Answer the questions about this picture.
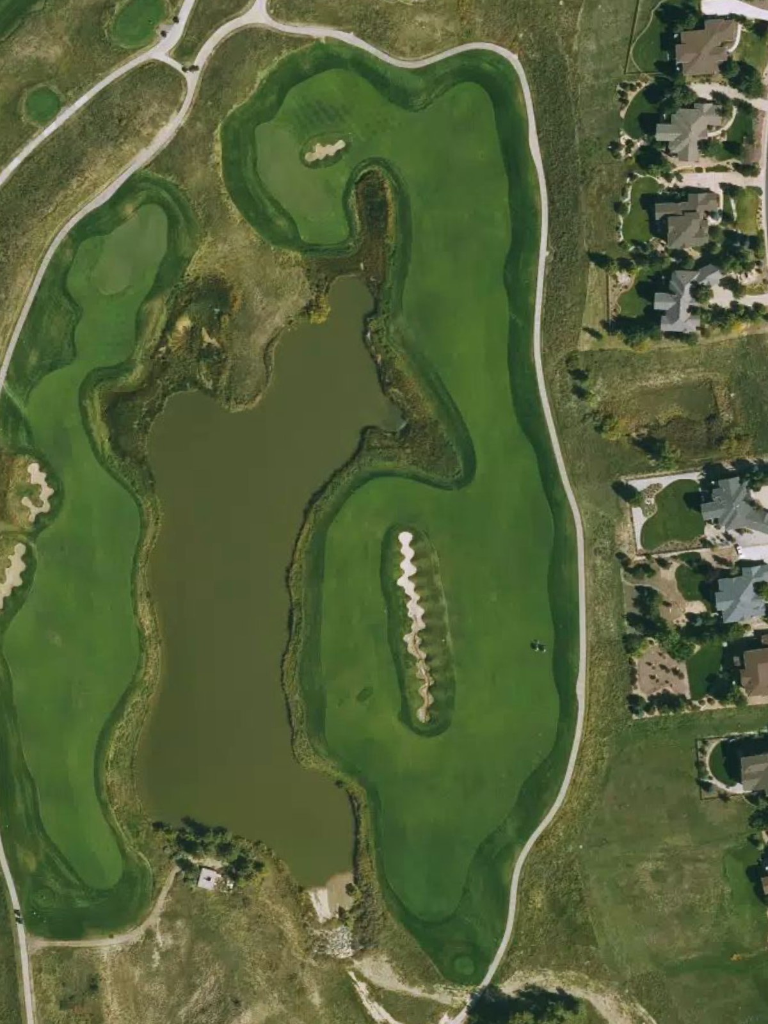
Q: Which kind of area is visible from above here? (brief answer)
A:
golf course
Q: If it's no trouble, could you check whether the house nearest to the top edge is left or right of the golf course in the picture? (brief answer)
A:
right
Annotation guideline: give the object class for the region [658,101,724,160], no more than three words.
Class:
house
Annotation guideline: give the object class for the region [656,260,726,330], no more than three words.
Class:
house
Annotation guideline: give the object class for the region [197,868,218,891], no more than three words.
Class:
building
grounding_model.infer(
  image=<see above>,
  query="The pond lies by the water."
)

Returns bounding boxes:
[136,275,406,888]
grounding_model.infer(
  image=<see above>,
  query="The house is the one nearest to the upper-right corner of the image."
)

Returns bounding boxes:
[678,17,739,73]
